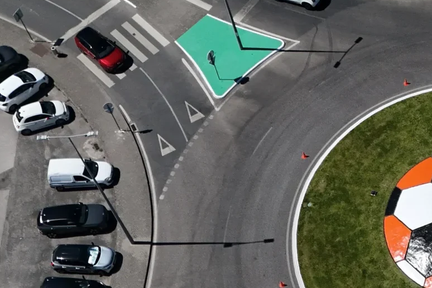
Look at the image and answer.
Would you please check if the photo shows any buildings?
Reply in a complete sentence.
No, no building can be seen from above.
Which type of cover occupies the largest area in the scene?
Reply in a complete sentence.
What you mostly see from above here is paved ground.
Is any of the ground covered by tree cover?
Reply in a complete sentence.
No, the picture contains no tree cover.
